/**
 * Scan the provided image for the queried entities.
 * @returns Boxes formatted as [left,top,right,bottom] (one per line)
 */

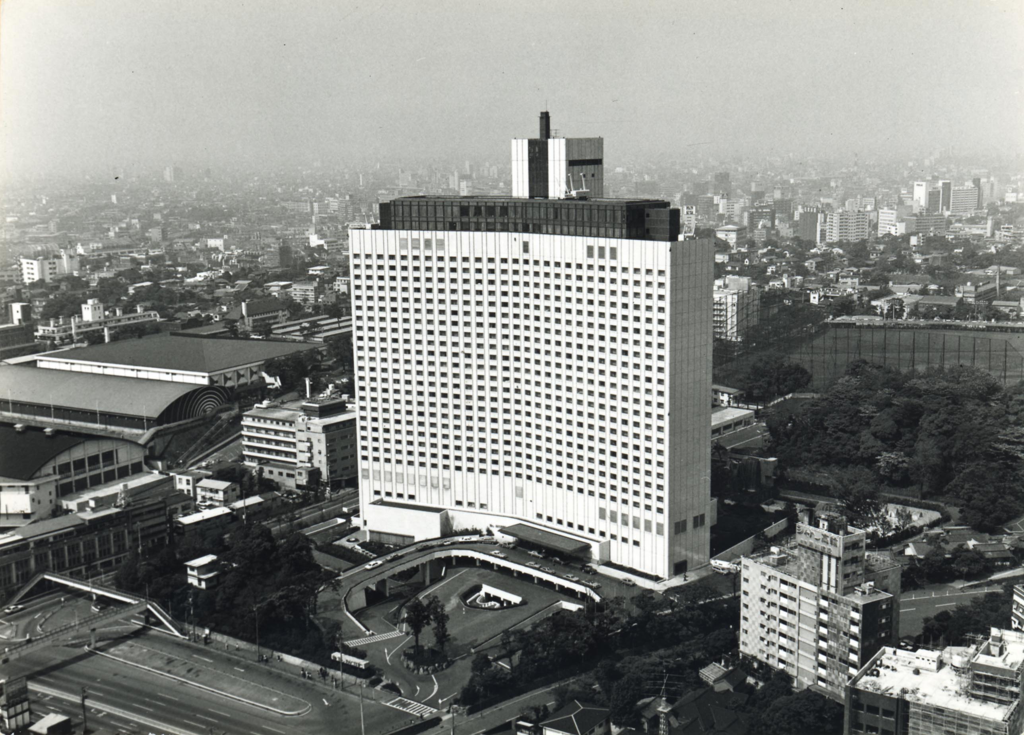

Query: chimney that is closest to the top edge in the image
[541,102,554,138]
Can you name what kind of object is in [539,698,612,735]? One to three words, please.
house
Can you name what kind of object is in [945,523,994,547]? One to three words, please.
house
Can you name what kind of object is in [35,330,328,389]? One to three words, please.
building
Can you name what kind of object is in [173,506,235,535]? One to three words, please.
shed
